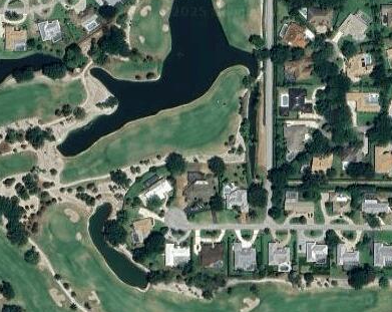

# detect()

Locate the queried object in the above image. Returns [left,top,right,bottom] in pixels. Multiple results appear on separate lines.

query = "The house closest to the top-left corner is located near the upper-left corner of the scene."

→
[4,25,28,49]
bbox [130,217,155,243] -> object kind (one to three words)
house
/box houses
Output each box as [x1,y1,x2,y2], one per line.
[346,60,375,82]
[346,92,380,111]
[374,145,392,172]
[284,185,313,211]
[339,12,370,42]
[4,25,28,49]
[311,154,333,173]
[283,22,309,48]
[362,197,390,212]
[373,244,392,266]
[130,217,155,243]
[304,9,333,31]
[80,11,103,35]
[269,244,289,264]
[186,182,215,203]
[199,245,222,267]
[336,245,360,268]
[143,173,172,205]
[290,89,311,111]
[329,194,352,213]
[306,243,327,262]
[283,125,310,153]
[381,8,392,28]
[166,244,190,266]
[226,188,247,211]
[234,244,256,271]
[283,57,313,82]
[39,20,63,43]
[342,143,367,165]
